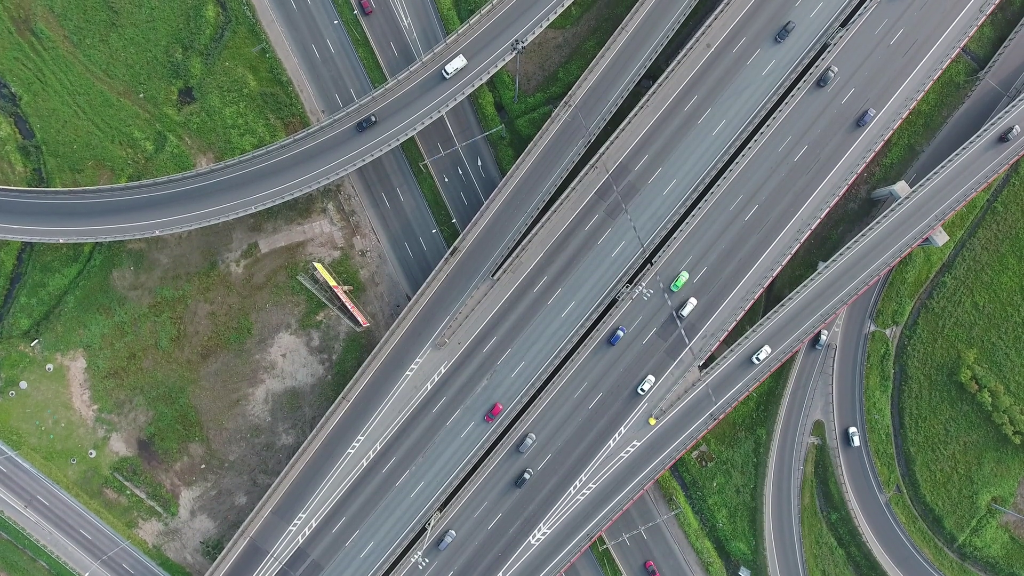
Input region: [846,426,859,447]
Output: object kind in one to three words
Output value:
vehicle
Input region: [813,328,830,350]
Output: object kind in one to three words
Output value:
car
